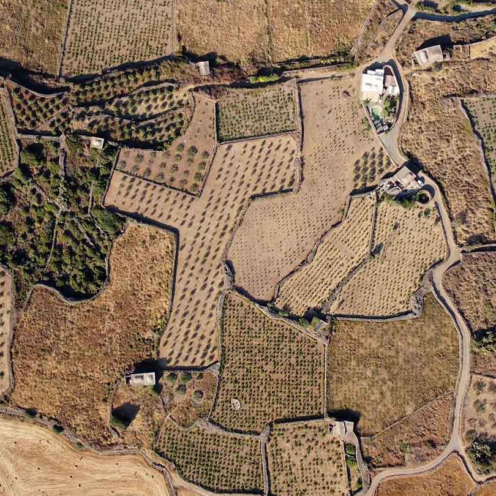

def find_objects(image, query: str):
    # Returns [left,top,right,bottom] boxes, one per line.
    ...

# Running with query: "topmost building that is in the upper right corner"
[412,45,449,67]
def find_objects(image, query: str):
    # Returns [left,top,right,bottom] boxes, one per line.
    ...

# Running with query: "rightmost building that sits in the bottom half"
[332,419,357,444]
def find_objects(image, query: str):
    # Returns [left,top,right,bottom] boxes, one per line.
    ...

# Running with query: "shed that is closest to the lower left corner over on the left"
[125,371,156,386]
